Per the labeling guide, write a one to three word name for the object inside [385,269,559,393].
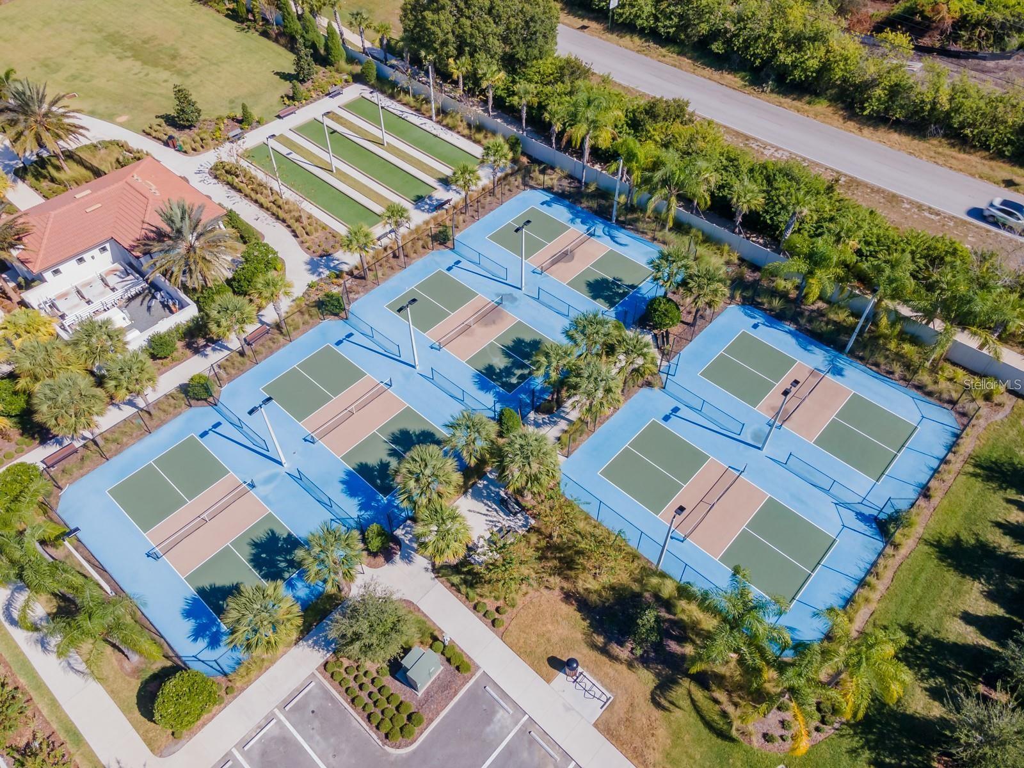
sports court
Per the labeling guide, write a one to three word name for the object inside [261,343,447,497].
sports court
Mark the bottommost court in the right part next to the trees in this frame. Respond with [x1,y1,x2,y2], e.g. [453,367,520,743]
[600,420,838,610]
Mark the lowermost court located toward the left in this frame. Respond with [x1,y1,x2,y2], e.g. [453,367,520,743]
[108,434,305,629]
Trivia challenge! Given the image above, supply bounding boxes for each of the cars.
[982,201,1024,239]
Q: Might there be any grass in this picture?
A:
Yes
